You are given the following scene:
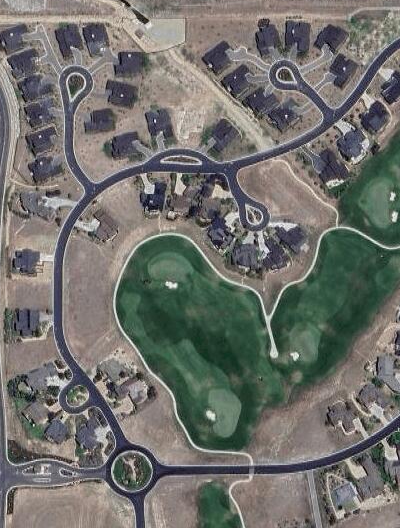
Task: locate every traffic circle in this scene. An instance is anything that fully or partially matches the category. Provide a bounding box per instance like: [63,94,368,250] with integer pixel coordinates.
[102,440,165,504]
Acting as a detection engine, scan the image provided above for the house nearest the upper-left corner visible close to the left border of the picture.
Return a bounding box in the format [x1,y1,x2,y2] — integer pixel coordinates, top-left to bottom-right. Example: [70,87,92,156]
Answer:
[0,22,28,51]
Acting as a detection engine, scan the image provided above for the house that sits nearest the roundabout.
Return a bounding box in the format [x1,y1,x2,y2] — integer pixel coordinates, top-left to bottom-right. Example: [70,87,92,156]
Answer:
[70,411,108,453]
